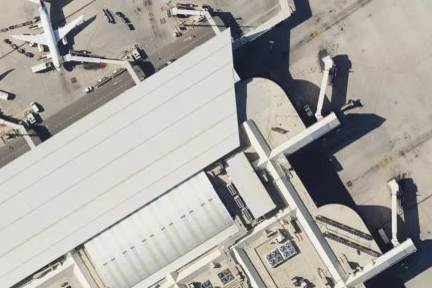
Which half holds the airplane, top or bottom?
top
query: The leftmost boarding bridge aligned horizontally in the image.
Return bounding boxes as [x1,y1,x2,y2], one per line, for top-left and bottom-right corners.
[61,54,142,85]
